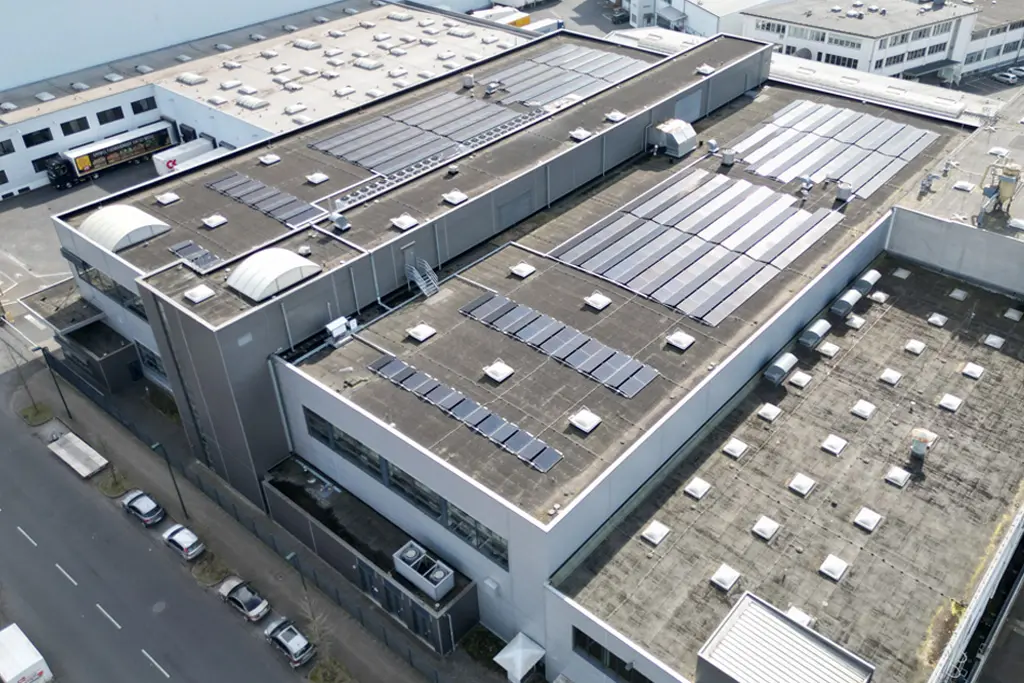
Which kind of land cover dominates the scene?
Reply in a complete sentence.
The bulk of the photo consists of buildings.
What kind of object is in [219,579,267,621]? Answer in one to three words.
car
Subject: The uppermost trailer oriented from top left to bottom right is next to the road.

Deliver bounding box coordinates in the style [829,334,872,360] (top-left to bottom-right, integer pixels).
[50,433,107,477]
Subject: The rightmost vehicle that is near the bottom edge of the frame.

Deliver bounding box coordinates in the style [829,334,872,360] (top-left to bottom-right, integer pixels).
[264,620,315,667]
